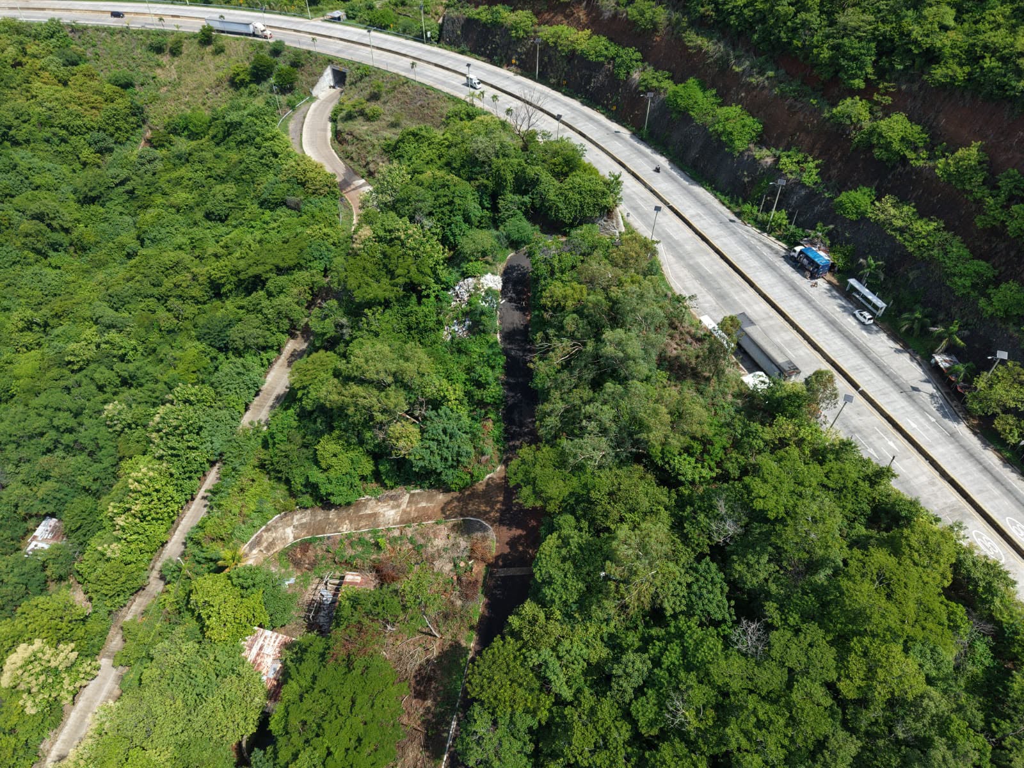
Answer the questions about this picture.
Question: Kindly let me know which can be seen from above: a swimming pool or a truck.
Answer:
truck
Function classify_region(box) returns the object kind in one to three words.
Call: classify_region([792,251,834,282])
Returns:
truck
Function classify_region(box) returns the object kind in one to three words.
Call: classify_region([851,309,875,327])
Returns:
car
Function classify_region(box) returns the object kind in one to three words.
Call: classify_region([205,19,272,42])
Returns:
truck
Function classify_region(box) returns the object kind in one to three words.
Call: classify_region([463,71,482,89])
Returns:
vehicle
